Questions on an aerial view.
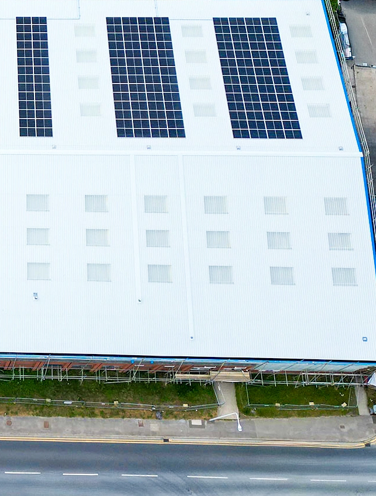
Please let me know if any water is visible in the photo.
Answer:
No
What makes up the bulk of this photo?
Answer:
buildings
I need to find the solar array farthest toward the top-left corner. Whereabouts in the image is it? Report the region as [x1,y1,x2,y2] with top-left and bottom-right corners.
[16,16,53,137]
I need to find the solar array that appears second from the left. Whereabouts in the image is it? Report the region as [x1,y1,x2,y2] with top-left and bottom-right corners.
[107,17,186,139]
